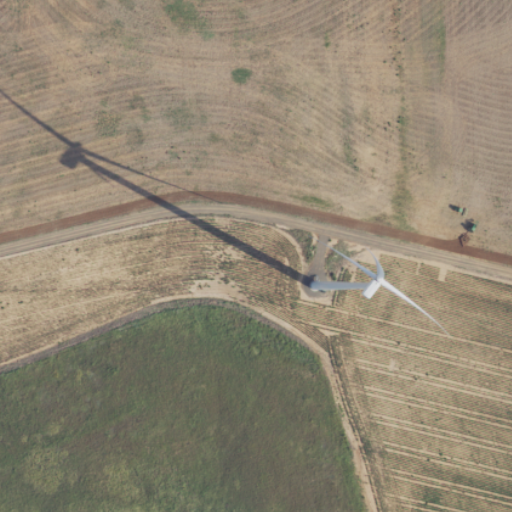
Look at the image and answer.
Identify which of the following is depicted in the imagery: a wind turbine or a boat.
wind turbine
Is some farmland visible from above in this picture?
Yes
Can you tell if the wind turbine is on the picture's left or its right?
right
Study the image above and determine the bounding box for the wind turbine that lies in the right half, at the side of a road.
[310,244,448,336]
